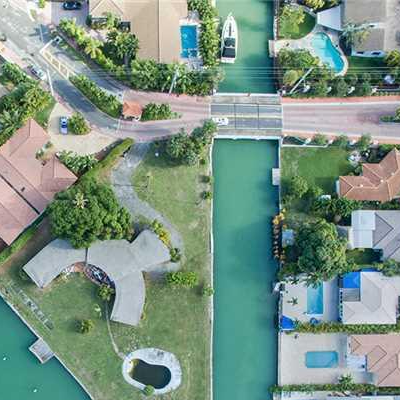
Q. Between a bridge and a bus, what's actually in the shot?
bridge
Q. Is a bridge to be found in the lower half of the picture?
No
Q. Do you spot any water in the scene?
Yes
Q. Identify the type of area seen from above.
residential area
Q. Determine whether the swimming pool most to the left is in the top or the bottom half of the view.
bottom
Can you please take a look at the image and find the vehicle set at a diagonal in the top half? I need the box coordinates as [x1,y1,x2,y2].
[30,64,46,80]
